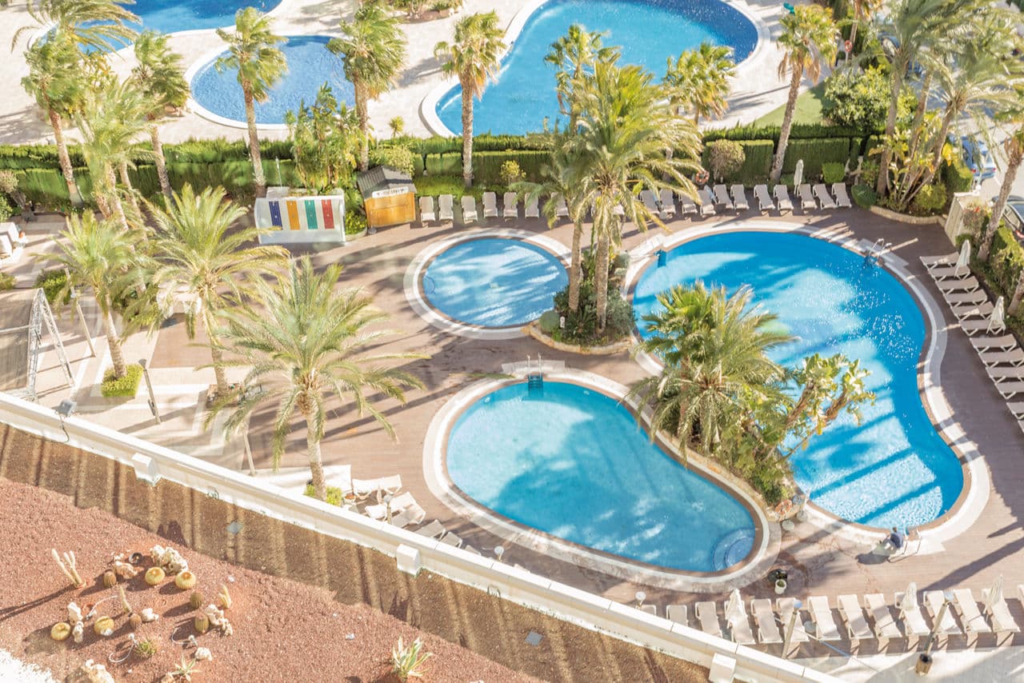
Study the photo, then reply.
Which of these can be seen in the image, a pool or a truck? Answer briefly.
pool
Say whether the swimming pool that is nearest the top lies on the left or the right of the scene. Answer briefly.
left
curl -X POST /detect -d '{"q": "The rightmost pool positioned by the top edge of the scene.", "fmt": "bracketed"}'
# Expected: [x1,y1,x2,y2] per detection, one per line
[436,0,757,127]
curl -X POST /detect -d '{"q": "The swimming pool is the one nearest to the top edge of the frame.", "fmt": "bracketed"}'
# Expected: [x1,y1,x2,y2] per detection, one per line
[47,0,280,54]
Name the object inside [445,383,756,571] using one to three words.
swimming pool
